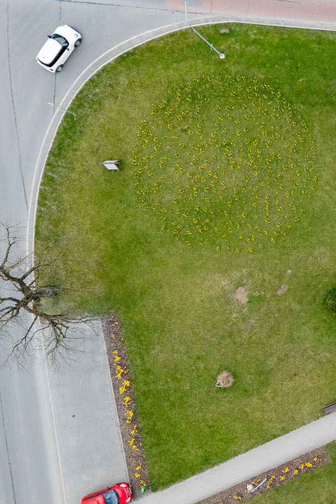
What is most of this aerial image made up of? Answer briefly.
grass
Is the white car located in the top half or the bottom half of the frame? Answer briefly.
top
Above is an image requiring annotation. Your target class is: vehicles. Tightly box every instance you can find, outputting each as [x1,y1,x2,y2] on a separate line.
[78,480,137,504]
[37,26,81,75]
